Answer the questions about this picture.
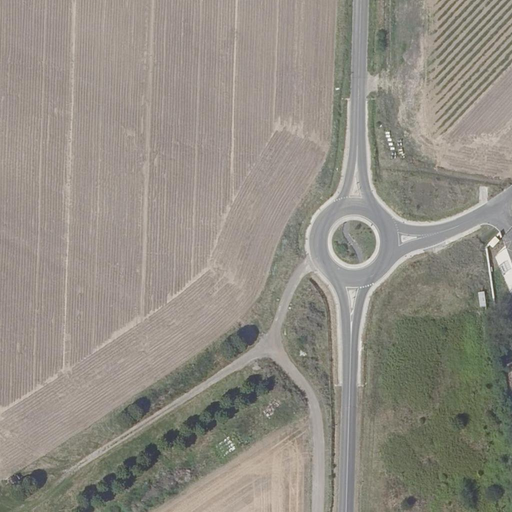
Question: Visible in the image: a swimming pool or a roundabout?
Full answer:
This aerial view contains a roundabout.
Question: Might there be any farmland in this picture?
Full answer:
Yes, there's farmland in this view.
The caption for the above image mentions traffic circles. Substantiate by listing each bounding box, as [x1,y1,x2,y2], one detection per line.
[309,150,422,335]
